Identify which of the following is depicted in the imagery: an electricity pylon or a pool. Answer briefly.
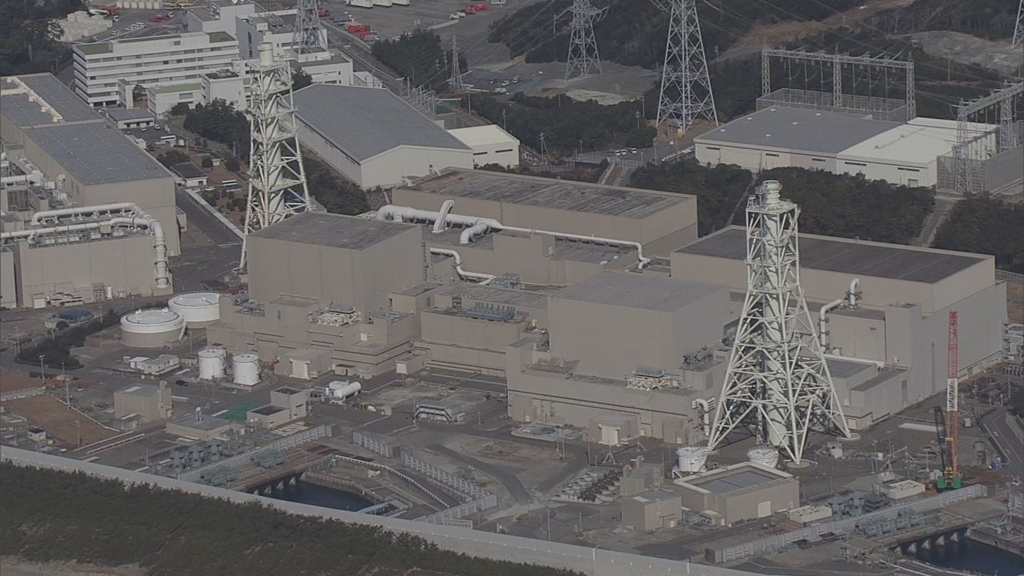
electricity pylon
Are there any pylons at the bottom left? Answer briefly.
No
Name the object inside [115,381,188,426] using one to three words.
building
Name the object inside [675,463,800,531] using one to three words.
building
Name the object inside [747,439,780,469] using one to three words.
water tank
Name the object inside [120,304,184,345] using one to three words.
storage tank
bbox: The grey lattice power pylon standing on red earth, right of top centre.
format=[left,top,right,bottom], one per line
[651,0,722,134]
